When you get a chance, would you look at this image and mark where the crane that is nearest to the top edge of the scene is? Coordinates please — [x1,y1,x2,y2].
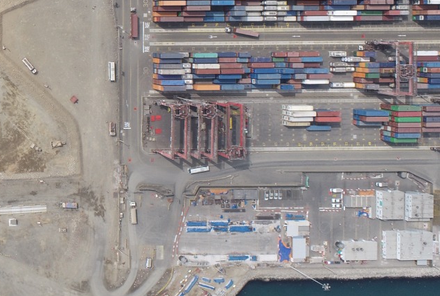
[360,39,416,99]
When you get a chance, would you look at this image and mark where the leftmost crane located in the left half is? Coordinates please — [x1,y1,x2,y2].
[148,99,191,160]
